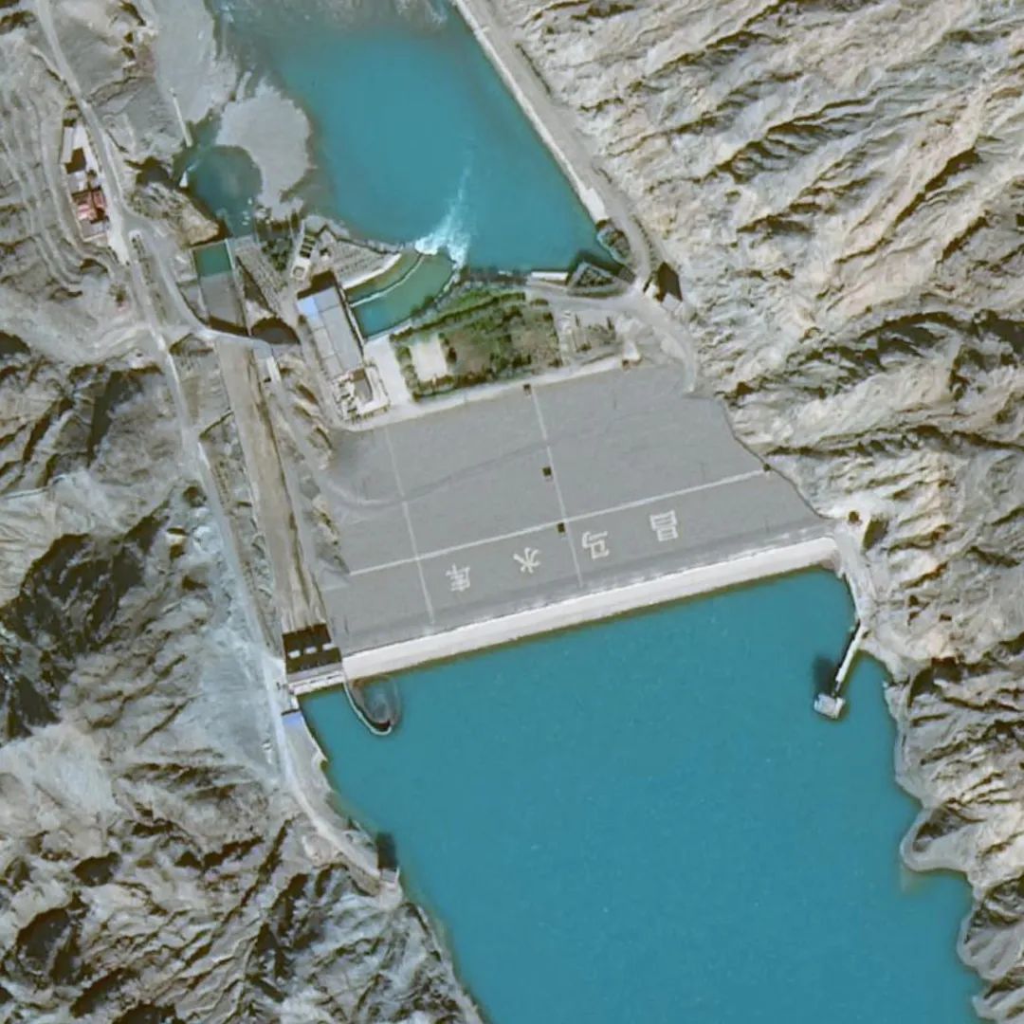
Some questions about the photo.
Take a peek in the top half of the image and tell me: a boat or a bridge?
bridge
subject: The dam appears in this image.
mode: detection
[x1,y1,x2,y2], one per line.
[314,357,845,682]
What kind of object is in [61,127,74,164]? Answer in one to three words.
house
